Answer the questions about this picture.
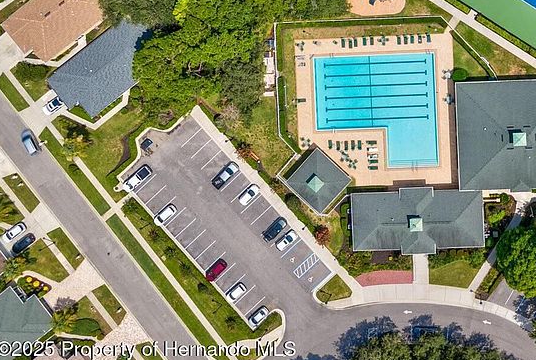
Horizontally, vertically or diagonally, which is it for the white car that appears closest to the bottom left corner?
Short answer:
diagonally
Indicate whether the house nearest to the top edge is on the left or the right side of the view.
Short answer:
left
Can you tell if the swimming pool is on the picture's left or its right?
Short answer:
right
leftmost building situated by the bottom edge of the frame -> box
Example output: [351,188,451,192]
[0,284,59,360]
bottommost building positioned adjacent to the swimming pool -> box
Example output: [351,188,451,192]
[350,187,485,255]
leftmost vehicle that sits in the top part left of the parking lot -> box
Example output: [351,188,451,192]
[21,129,42,156]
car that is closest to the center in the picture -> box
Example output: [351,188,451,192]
[238,184,261,205]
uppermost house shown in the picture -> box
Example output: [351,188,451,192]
[3,0,117,64]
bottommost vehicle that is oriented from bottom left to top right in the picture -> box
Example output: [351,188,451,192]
[248,306,270,327]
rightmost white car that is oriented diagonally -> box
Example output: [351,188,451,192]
[275,229,299,251]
